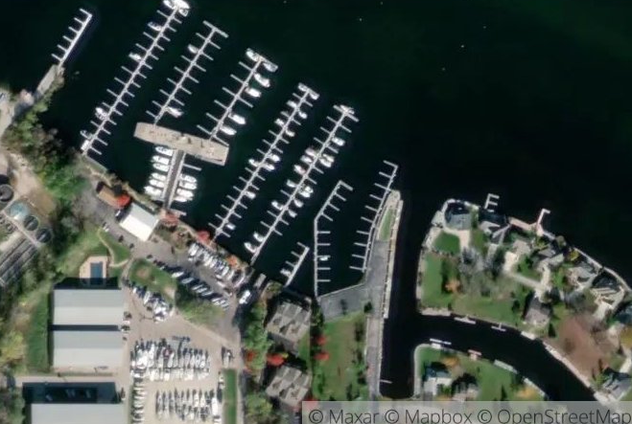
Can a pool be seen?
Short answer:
Yes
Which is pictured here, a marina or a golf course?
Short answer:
marina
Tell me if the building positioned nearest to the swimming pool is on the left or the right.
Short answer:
left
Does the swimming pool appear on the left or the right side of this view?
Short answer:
left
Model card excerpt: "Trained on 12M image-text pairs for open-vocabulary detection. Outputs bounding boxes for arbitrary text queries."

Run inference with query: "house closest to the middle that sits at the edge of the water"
[265,303,312,345]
